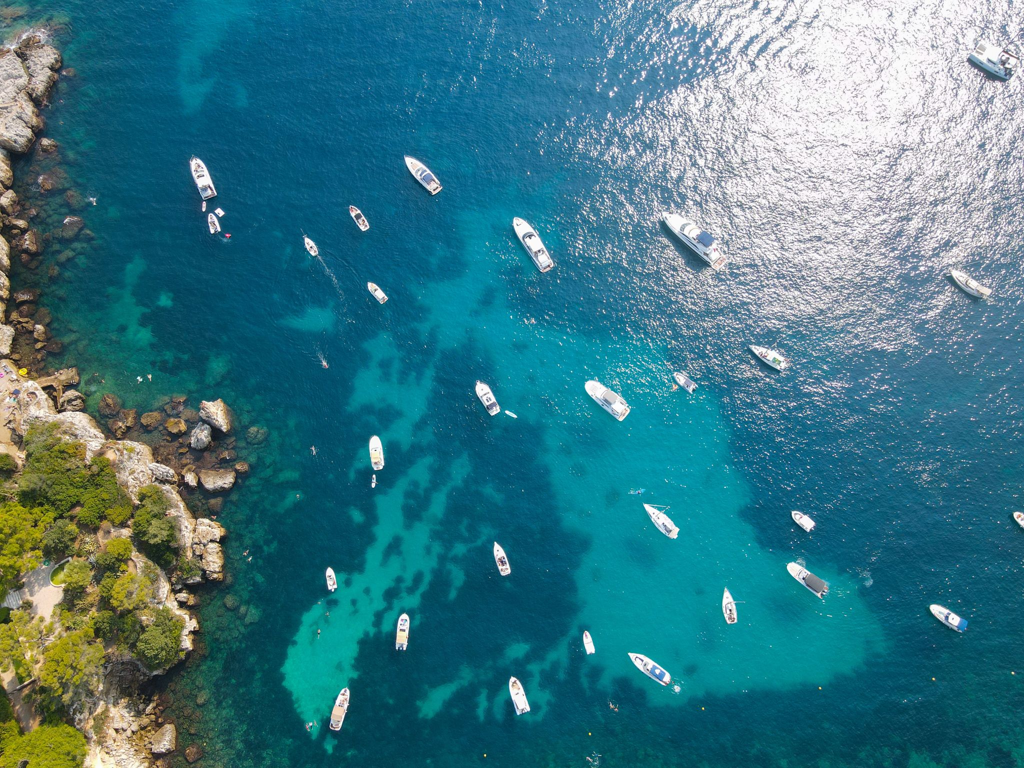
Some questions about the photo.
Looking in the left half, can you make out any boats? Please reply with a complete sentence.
Yes, a boat appears in the left half.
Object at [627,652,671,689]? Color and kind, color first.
white boat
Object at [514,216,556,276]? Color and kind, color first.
white boat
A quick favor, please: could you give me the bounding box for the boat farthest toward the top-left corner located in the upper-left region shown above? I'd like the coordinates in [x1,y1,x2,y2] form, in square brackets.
[190,155,218,203]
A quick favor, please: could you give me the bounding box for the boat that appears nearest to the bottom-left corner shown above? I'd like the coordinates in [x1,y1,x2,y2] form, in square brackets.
[329,688,350,730]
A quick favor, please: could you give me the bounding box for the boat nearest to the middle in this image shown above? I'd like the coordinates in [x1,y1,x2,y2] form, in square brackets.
[475,380,502,418]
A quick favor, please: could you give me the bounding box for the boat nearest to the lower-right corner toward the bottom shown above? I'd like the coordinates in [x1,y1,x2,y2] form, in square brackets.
[927,604,970,637]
